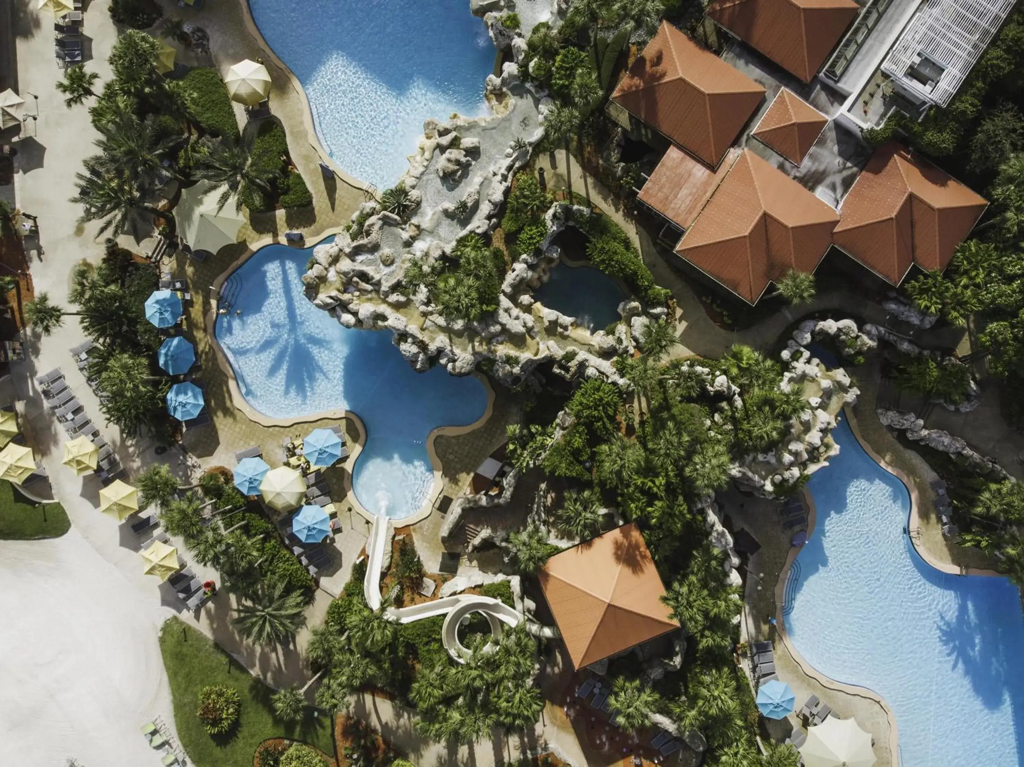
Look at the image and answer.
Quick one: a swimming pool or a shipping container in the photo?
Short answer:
swimming pool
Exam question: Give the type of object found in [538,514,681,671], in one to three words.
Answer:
building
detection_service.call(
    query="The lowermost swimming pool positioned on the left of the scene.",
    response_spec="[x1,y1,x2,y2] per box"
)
[215,244,489,519]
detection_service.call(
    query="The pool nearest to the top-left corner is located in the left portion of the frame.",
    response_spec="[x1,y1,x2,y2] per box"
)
[245,0,490,192]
